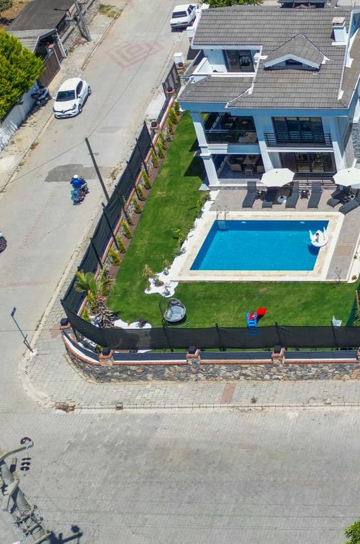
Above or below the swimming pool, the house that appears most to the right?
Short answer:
above it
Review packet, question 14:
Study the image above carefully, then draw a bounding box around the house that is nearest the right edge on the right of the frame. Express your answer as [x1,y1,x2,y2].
[173,2,360,188]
